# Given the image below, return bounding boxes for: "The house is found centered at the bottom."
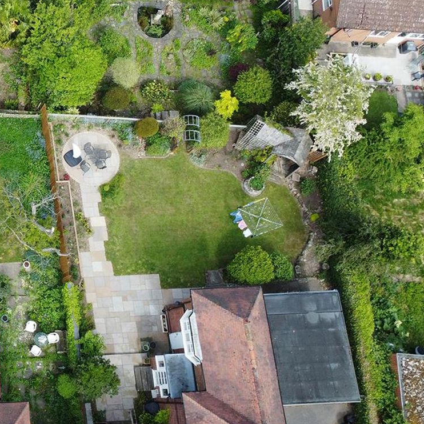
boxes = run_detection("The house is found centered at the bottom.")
[146,283,362,424]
